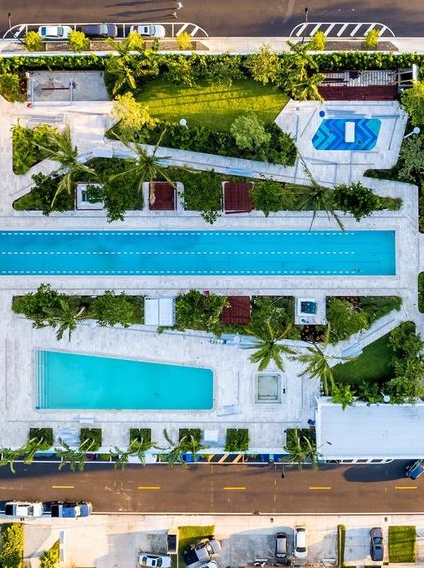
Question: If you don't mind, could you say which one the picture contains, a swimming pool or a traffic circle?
swimming pool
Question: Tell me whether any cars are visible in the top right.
No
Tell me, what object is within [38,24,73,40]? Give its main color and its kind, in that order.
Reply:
white car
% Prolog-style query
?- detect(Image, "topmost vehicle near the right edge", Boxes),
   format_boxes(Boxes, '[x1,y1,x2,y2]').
[399,459,424,483]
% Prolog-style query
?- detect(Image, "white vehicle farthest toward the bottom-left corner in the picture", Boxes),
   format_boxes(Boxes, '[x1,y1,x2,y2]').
[4,500,44,518]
